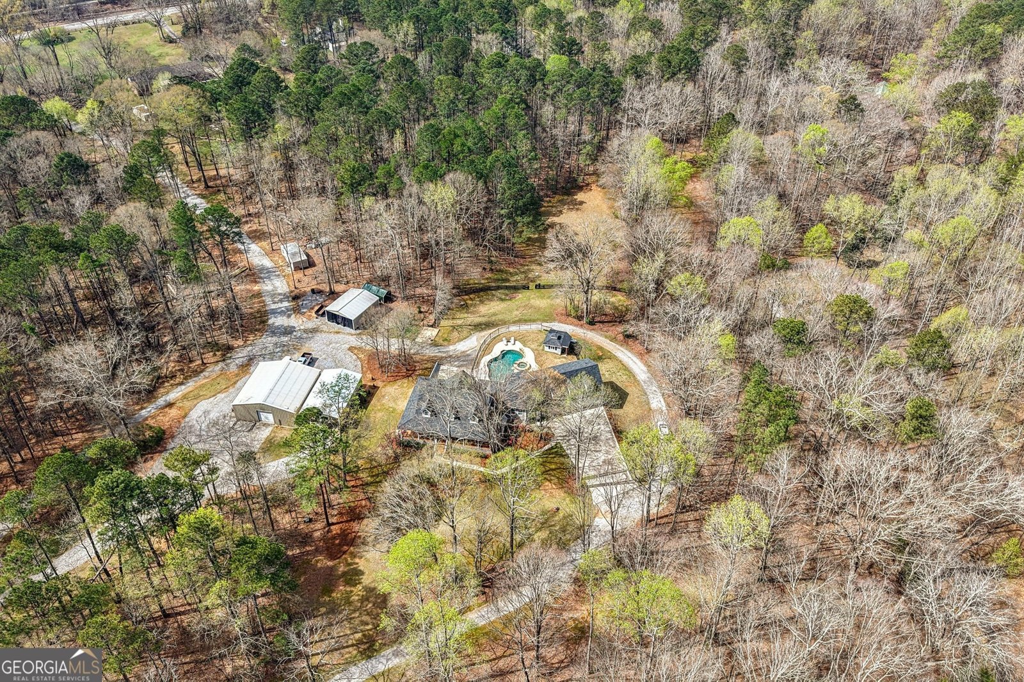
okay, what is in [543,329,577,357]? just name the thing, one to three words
building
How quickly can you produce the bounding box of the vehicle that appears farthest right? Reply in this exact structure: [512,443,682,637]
[656,419,672,439]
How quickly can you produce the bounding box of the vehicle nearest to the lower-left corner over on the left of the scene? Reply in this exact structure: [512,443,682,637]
[298,348,318,366]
